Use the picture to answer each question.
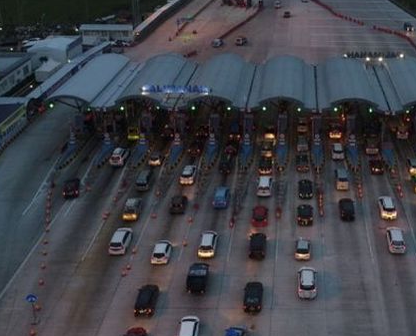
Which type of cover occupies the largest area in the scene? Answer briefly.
paved ground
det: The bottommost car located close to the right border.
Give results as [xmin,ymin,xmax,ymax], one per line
[386,228,408,255]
